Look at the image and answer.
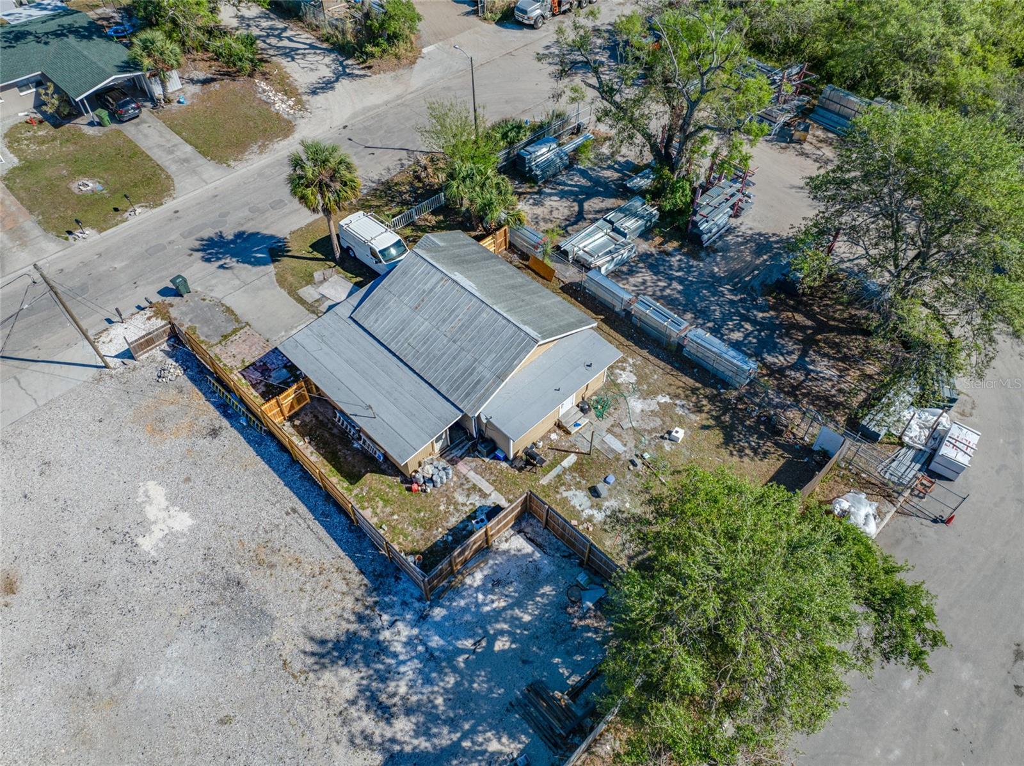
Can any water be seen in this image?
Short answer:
No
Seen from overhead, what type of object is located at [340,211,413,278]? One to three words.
van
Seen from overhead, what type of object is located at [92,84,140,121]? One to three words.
car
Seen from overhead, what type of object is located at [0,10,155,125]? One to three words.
house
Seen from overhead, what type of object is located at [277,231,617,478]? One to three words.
house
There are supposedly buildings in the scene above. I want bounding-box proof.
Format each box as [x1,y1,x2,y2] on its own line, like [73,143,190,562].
[0,10,155,125]
[277,231,617,478]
